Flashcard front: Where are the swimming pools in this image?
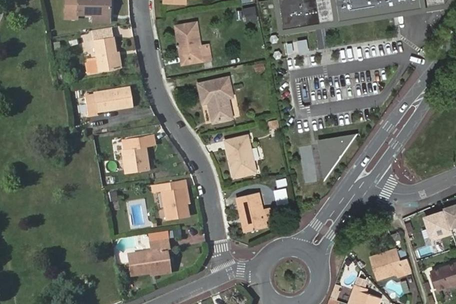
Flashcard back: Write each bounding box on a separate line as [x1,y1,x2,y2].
[106,161,118,172]
[418,245,433,258]
[116,236,138,252]
[384,278,403,296]
[344,272,358,286]
[130,204,145,226]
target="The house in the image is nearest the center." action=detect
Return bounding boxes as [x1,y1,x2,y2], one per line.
[224,134,257,180]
